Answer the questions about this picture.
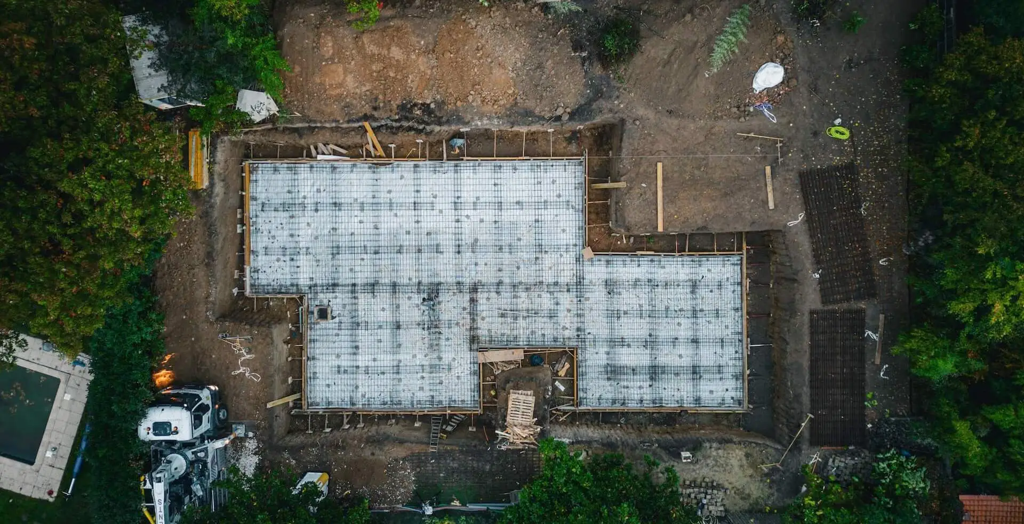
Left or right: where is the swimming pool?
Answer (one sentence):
You can find the swimming pool on the left side of the picture.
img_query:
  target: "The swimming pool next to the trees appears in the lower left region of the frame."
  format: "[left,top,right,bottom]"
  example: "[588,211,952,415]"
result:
[0,356,72,478]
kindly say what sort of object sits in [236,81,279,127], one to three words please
shed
